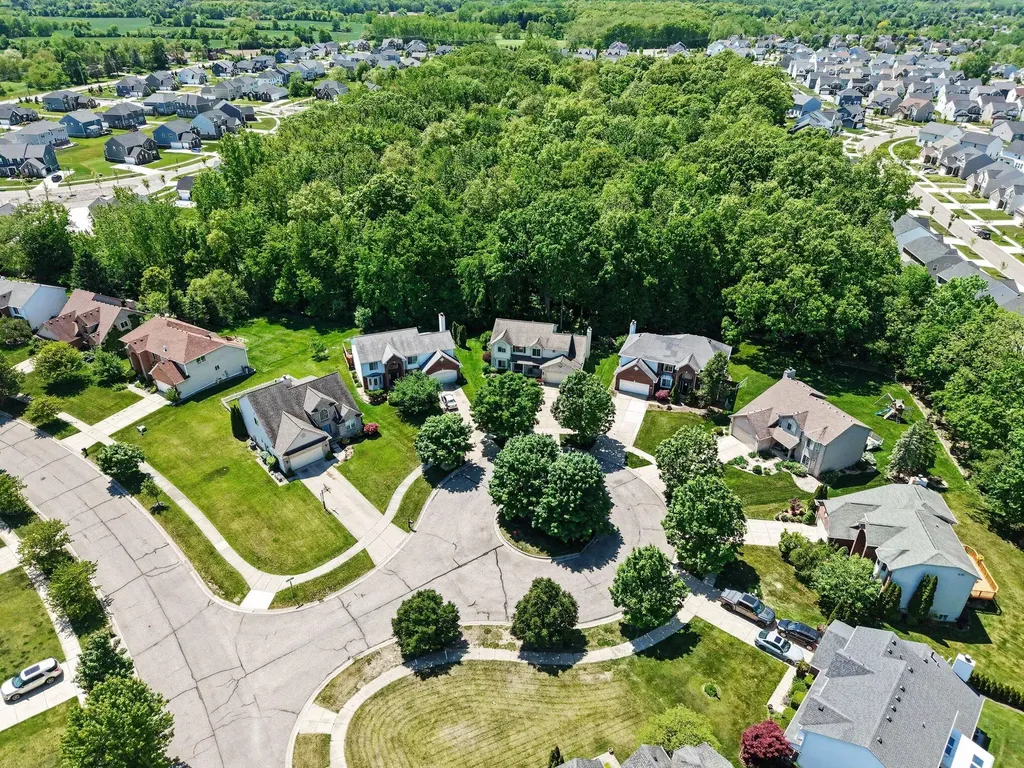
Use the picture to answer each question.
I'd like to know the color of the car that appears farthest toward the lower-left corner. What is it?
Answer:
white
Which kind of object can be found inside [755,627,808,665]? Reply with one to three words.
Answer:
car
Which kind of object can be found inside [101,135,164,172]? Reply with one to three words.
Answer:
house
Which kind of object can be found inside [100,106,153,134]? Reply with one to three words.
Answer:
house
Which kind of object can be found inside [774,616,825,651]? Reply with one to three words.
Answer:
car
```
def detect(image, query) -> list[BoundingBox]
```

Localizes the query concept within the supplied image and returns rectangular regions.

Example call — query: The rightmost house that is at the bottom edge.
[762,614,987,768]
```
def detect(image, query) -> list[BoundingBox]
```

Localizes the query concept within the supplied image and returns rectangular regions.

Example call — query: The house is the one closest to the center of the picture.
[486,315,590,385]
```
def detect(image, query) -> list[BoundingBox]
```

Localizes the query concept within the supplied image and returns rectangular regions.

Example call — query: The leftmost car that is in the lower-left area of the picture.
[0,658,59,700]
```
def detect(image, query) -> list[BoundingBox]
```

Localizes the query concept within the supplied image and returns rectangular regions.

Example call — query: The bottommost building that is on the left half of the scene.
[238,366,371,474]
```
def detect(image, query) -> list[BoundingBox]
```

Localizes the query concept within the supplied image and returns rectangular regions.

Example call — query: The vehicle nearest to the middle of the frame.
[440,388,460,408]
